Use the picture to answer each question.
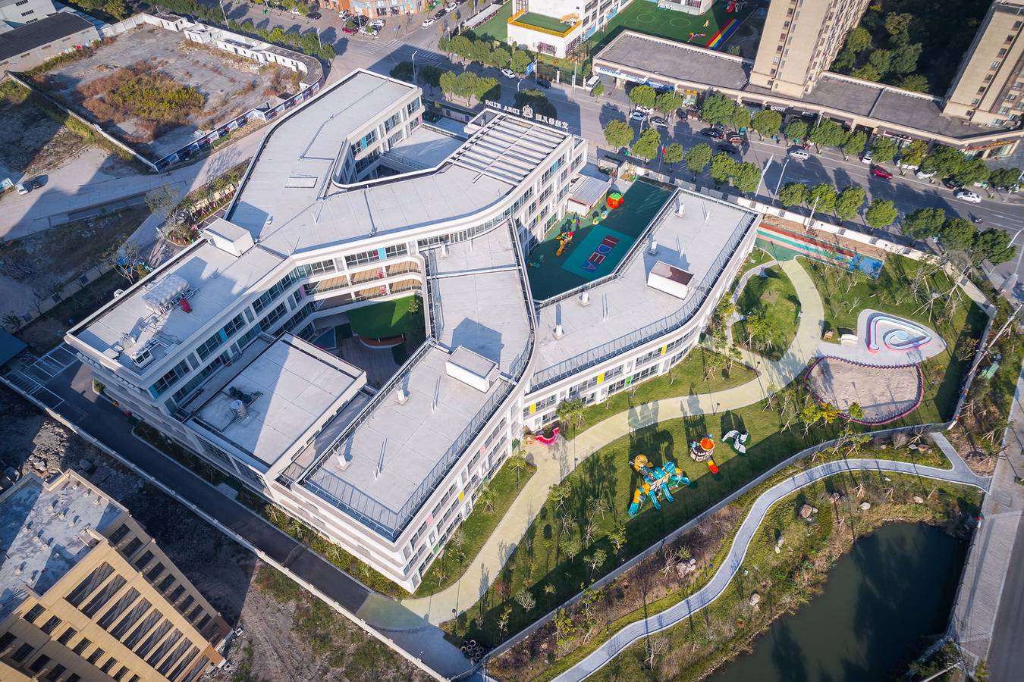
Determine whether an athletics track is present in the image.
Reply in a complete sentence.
Yes, an athletics track appears in the view.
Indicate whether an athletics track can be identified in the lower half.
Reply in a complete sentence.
No, no athletics track can be made out in the lower half.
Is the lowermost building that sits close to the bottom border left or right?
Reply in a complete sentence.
It is on the left.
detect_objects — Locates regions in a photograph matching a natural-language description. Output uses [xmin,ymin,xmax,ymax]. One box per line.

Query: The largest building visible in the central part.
[60,69,764,598]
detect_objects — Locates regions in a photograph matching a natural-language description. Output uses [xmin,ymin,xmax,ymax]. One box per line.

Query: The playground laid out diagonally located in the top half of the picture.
[526,172,641,275]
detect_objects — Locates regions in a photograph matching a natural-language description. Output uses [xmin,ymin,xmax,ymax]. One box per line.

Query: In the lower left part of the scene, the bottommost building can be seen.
[0,460,234,682]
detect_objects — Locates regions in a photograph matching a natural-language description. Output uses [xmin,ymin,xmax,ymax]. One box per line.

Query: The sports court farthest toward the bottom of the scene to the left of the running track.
[561,224,636,279]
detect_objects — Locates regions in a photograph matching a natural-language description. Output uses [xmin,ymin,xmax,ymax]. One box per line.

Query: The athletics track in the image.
[757,221,886,279]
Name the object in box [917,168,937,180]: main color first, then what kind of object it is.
white vehicle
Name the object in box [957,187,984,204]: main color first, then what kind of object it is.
white car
